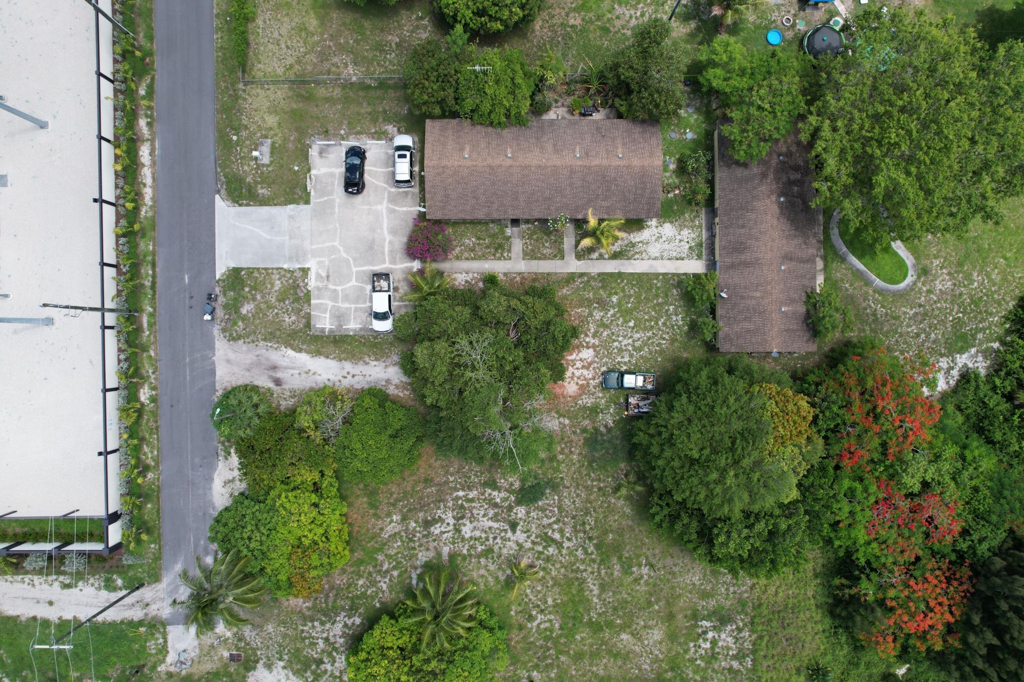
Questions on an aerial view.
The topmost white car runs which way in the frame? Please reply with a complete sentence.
The topmost white car runs vertically in the image.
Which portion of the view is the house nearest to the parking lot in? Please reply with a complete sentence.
Look in the top portion of the view to spot the house nearest to the parking lot.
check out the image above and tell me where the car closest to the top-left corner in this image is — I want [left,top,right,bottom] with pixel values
[341,146,366,192]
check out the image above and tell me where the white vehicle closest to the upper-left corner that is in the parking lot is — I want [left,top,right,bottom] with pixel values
[391,134,416,187]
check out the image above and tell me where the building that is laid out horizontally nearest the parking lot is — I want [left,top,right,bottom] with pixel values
[424,118,663,220]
